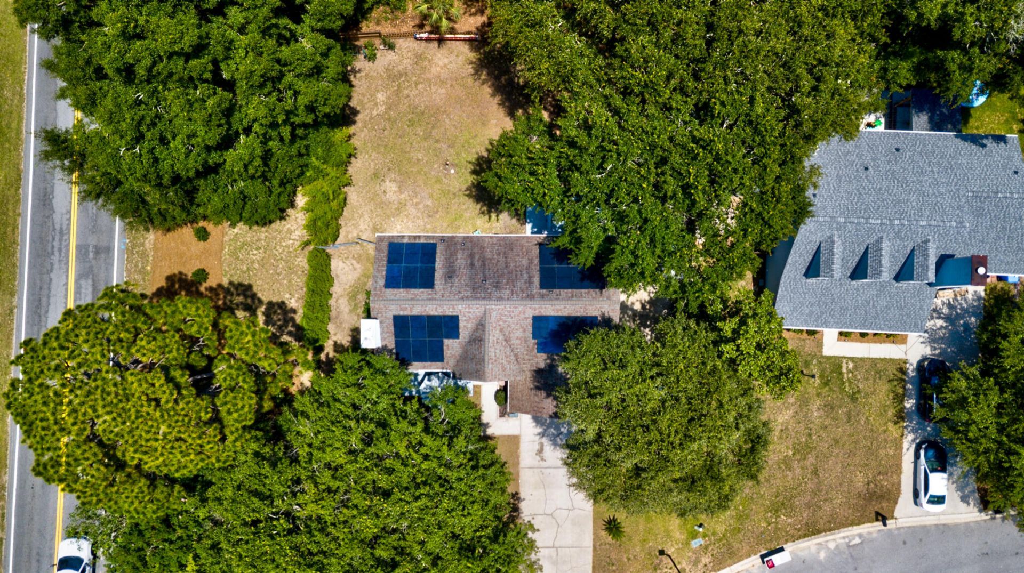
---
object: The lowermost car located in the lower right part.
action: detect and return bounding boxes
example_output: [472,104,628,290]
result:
[911,439,950,513]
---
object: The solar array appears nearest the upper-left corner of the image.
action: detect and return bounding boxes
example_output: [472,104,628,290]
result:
[385,242,437,288]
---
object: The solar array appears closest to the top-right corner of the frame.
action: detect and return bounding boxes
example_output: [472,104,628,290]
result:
[539,243,606,289]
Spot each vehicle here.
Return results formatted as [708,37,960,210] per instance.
[57,534,96,573]
[916,355,950,422]
[911,439,950,513]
